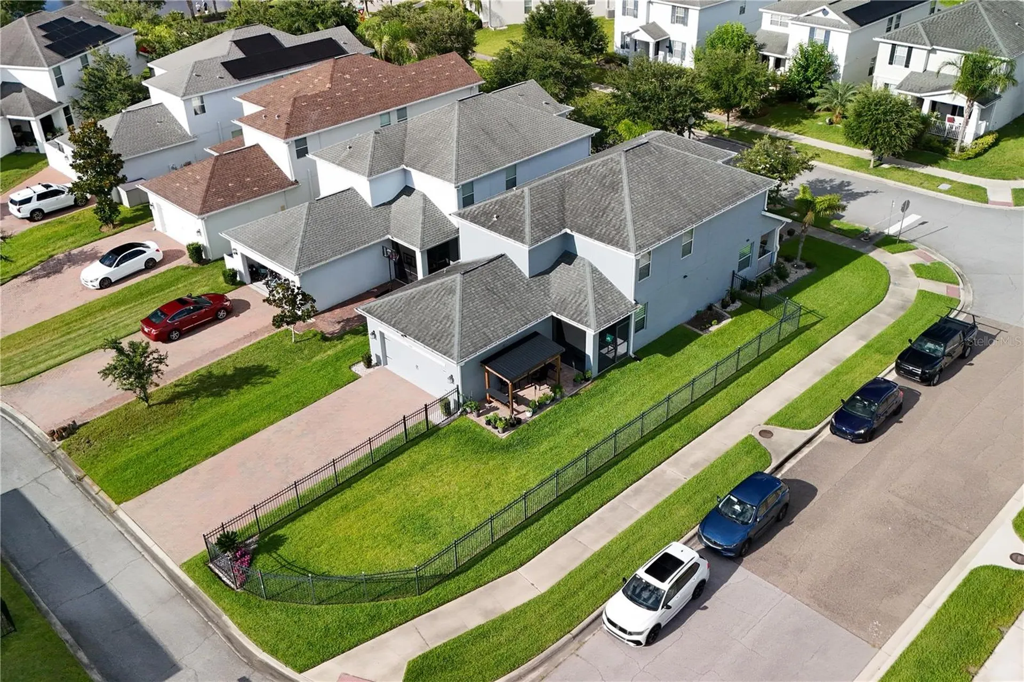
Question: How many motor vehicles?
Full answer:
I count 7 motor vehicles.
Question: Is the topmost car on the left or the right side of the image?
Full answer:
The topmost car is on the left side of the image.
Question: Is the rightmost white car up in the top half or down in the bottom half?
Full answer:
The bottom half of the photo is where the rightmost white car is.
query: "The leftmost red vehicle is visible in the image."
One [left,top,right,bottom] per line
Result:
[138,290,235,339]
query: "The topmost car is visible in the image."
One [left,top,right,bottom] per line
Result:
[10,179,83,218]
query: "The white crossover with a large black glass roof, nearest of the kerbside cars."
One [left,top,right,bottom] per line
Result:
[599,544,714,646]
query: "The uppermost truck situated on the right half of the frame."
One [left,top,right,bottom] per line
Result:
[895,305,989,388]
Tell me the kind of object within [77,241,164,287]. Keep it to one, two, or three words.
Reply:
car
